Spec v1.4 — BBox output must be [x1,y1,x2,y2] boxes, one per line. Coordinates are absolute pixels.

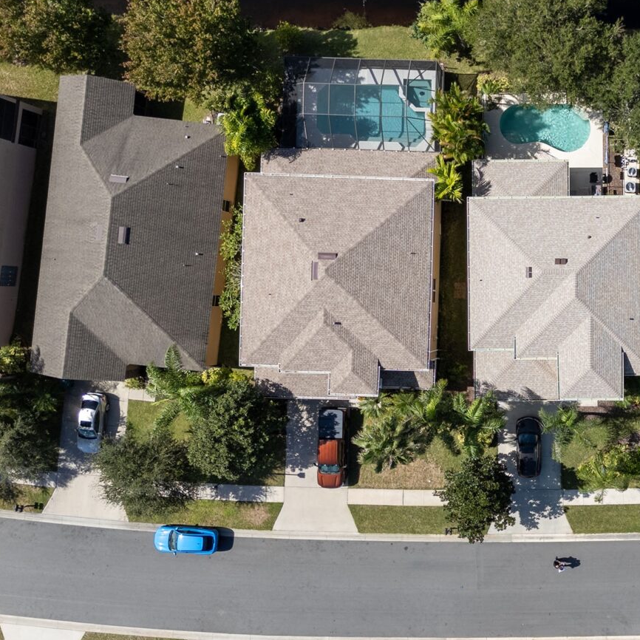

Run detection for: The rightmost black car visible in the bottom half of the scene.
[513,416,545,478]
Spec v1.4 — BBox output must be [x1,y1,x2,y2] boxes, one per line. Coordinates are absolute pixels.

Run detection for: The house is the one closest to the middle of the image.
[238,149,441,400]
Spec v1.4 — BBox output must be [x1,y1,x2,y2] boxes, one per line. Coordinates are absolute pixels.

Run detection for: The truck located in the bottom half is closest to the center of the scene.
[314,407,350,485]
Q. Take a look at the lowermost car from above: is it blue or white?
blue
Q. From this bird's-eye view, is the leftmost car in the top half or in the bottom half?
bottom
